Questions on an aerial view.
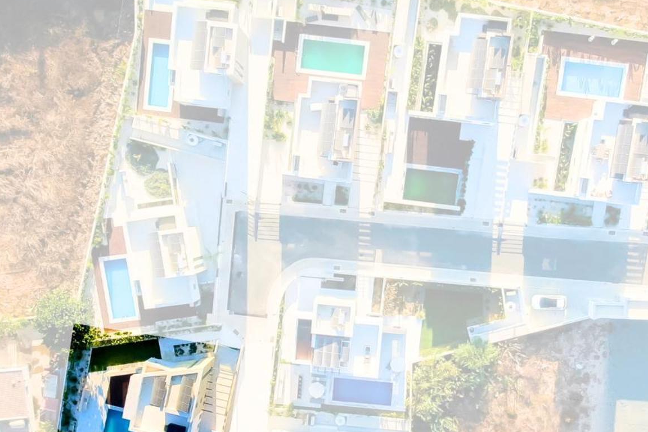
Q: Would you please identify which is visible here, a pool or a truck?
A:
pool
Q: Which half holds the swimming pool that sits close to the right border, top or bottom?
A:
top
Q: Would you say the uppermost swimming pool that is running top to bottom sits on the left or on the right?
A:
left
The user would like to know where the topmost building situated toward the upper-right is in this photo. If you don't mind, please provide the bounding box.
[437,13,512,128]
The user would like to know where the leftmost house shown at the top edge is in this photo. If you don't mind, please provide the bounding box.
[169,2,249,115]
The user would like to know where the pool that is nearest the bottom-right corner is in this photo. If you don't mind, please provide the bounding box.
[327,374,396,407]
